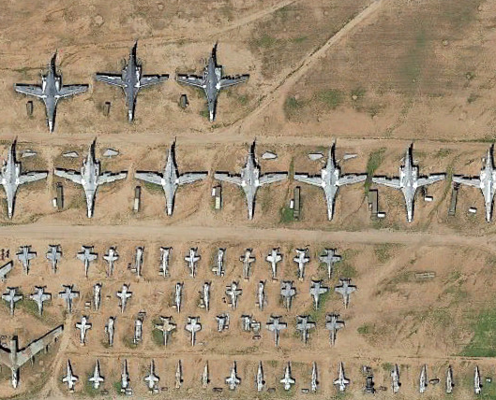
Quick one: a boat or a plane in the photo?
plane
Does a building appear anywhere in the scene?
No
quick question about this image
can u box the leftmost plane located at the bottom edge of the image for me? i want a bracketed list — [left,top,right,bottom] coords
[0,325,62,388]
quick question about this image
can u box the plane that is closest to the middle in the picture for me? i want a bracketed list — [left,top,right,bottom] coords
[214,144,287,219]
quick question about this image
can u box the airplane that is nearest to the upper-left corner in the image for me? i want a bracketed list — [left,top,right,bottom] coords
[15,58,89,133]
